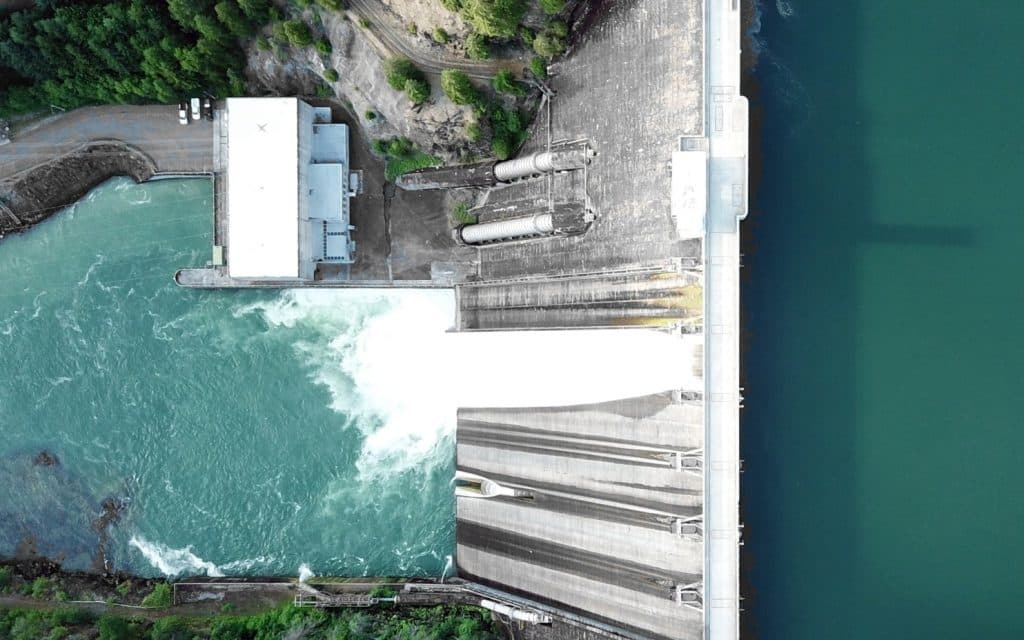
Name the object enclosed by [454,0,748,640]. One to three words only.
dam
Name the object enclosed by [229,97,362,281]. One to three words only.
building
